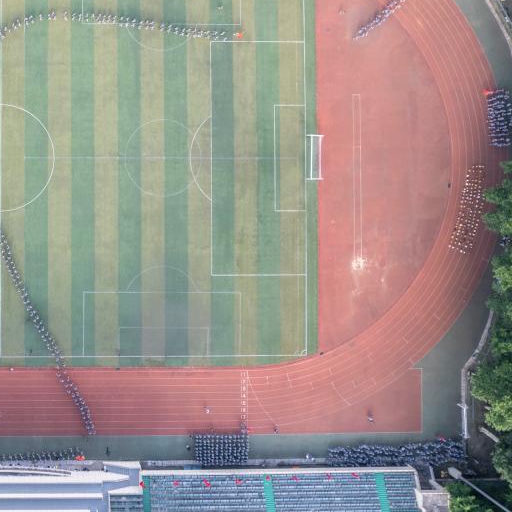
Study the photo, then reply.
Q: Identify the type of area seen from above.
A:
sports ground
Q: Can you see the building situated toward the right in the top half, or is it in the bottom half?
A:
bottom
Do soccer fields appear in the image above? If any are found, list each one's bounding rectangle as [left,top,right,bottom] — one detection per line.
[24,0,301,356]
[0,0,319,367]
